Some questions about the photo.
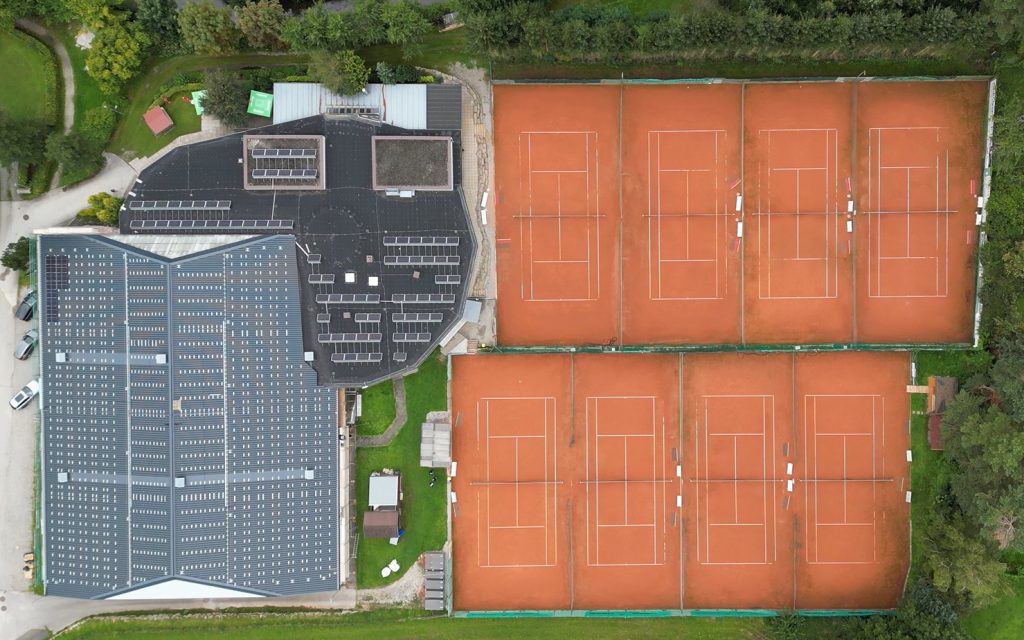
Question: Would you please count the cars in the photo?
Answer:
3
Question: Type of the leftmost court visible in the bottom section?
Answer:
tennis court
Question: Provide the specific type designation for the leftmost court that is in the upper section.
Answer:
tennis court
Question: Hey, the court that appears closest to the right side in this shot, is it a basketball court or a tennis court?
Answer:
tennis court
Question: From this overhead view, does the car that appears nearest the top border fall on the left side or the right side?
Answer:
left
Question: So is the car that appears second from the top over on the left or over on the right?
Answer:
left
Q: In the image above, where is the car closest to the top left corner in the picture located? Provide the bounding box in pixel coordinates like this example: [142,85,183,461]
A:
[13,288,39,320]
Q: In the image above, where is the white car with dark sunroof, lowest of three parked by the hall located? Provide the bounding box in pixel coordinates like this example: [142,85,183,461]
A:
[9,378,40,410]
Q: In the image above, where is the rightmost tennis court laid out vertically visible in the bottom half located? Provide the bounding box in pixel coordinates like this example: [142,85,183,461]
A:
[794,353,912,609]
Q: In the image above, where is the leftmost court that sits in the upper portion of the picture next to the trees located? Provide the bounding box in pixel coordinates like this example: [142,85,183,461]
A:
[494,84,622,346]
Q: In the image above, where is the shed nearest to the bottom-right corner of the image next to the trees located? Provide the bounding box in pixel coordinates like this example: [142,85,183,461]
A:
[928,414,946,450]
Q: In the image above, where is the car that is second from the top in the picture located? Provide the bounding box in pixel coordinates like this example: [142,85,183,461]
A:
[14,329,39,361]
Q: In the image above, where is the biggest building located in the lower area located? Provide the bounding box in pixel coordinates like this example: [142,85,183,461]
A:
[38,234,353,599]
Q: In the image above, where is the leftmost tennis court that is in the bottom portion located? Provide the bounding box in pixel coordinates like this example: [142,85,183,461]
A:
[453,355,572,610]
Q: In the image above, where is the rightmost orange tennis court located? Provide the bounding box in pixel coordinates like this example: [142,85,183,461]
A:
[855,81,988,345]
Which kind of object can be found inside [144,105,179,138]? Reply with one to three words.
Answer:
shed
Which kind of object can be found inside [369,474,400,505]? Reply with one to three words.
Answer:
building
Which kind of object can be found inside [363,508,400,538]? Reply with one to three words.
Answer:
shed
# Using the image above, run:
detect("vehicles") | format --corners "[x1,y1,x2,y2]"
[9,378,40,410]
[14,329,39,361]
[13,288,39,320]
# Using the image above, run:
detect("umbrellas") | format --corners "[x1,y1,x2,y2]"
[249,92,274,117]
[189,91,214,116]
